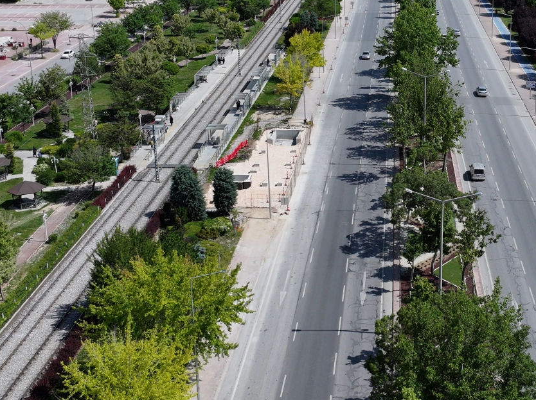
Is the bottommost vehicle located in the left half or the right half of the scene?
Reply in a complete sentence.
It is on the right.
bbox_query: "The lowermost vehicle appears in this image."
[466,158,487,182]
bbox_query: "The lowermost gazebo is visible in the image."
[1,175,48,209]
